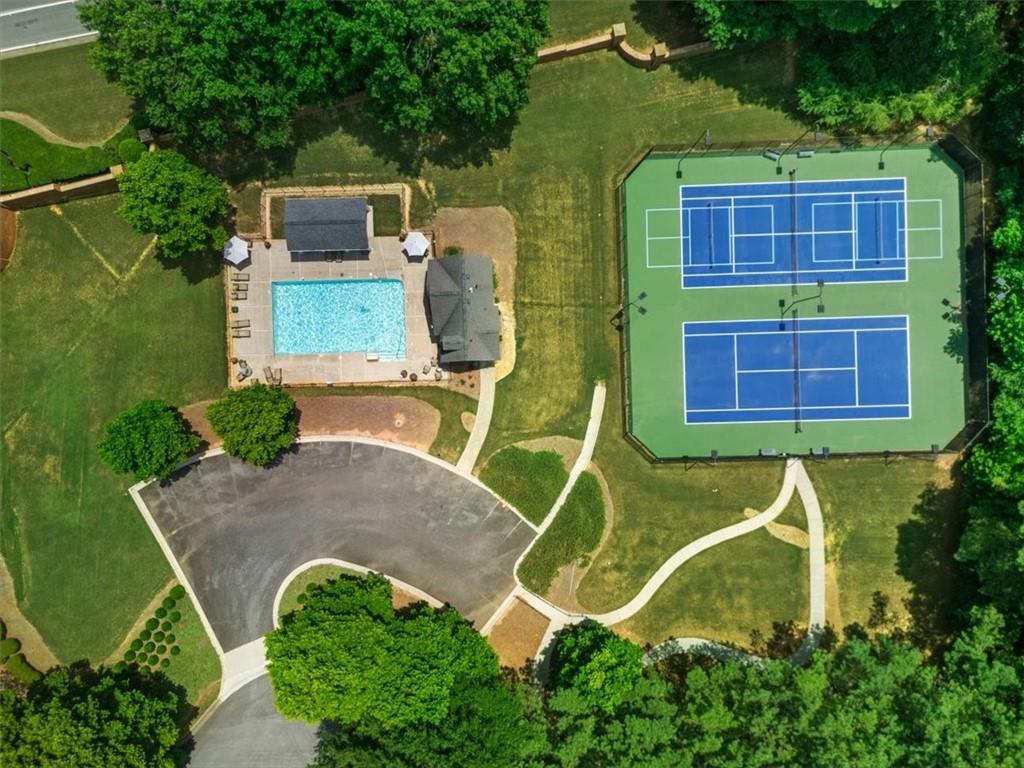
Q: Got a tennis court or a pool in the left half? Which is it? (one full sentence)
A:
There is a pool in the left half.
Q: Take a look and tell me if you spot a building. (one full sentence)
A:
Yes, this view includes a building.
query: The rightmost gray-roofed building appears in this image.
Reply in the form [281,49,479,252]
[428,255,501,362]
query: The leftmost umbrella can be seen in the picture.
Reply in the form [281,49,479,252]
[225,237,249,263]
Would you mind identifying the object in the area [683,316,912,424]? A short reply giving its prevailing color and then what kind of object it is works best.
blue tennis court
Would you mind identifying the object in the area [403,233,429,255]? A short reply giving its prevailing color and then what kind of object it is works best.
white umbrella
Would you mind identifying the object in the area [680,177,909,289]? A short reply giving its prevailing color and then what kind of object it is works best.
blue tennis court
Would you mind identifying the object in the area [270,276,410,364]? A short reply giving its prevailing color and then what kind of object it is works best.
blue swimming pool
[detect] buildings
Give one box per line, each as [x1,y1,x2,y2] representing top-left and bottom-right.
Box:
[284,196,374,256]
[428,255,501,362]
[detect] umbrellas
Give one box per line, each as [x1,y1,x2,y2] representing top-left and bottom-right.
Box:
[225,237,249,263]
[403,233,429,255]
